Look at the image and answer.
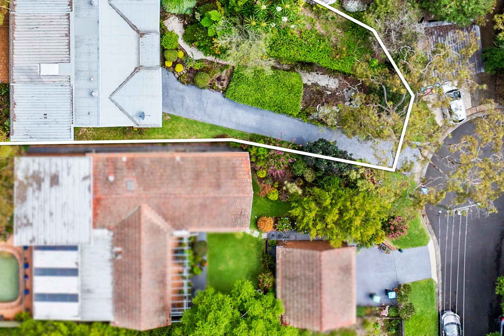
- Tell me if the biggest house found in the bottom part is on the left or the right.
left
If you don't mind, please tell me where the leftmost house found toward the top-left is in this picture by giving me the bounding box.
[10,0,162,140]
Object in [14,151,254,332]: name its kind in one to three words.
house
